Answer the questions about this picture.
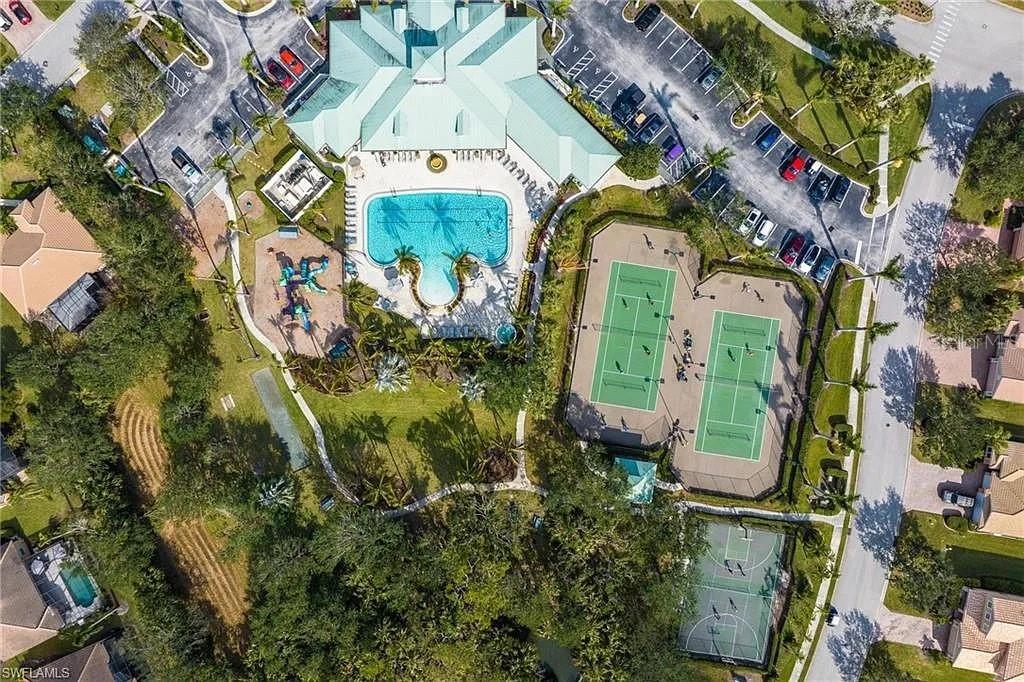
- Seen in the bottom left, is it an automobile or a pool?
pool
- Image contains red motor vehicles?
Yes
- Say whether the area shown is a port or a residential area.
residential area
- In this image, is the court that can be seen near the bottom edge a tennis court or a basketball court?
basketball court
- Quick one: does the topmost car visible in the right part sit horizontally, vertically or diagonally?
diagonally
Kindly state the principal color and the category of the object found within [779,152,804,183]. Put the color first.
red car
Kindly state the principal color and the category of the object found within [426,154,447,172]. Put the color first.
yellow fountain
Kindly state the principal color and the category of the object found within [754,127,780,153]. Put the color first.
blue car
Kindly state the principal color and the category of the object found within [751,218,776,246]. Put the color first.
white car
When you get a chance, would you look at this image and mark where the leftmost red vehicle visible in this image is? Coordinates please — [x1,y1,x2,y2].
[9,0,33,26]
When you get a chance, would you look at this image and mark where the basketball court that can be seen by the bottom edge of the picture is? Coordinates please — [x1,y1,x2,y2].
[674,517,782,660]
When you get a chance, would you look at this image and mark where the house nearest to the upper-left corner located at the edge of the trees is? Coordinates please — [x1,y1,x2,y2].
[0,187,111,333]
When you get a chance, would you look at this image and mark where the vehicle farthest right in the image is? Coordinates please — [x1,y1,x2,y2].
[940,489,976,507]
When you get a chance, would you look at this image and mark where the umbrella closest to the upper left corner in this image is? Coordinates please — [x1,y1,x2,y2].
[352,165,365,178]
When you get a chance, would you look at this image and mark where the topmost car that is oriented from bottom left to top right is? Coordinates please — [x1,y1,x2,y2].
[634,3,660,32]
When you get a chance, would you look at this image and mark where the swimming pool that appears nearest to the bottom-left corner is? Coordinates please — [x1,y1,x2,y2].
[58,564,99,609]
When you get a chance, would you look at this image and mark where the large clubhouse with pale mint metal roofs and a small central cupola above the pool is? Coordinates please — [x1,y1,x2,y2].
[288,0,622,188]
